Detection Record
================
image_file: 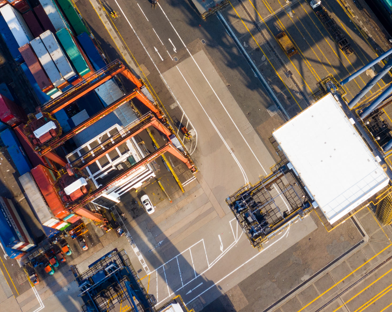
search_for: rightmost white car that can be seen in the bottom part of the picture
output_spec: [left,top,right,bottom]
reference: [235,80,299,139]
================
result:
[140,195,156,215]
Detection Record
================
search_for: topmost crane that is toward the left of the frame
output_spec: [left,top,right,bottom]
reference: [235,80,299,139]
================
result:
[19,59,168,171]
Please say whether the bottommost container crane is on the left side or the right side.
left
